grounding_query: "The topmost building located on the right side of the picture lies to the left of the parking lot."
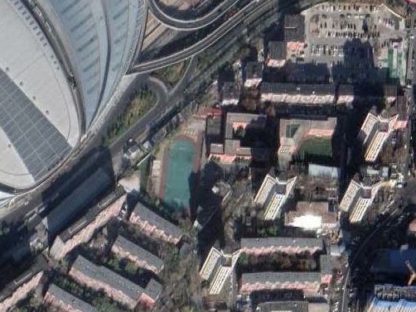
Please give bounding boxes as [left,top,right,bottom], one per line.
[281,15,304,47]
